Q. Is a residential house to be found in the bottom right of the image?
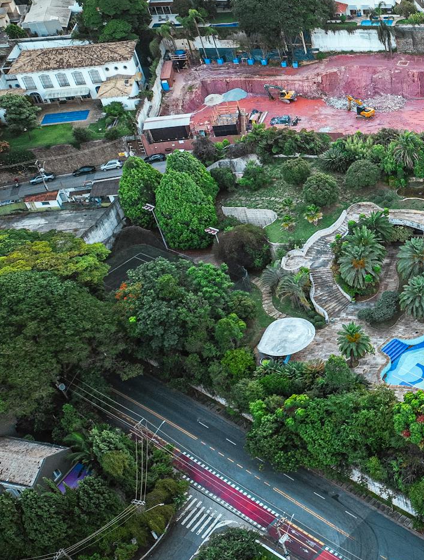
No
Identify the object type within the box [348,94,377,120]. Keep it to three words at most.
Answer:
work vehicle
